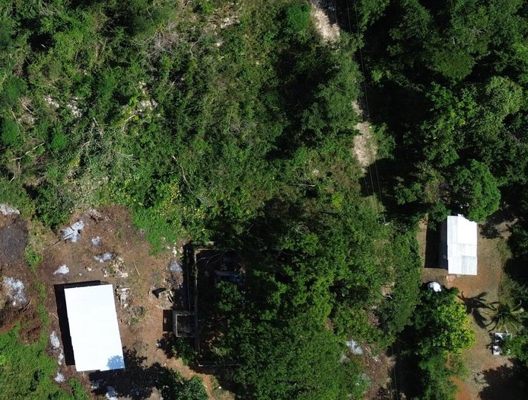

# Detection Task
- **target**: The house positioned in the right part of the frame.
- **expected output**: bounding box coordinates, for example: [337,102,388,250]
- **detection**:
[439,215,478,275]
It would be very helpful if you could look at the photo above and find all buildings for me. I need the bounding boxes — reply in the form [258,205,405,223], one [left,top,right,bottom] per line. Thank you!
[439,215,478,275]
[65,282,125,371]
